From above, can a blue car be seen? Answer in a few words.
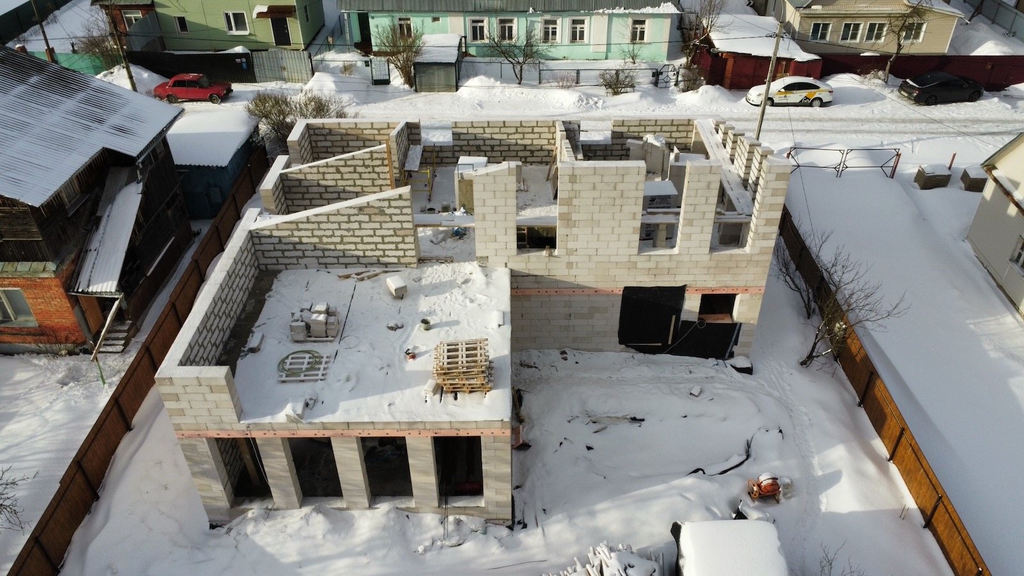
No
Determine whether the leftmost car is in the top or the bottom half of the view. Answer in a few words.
top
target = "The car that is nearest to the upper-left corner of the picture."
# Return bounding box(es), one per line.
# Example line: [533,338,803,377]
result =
[152,72,238,105]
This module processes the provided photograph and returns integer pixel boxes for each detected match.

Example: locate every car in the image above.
[152,72,238,105]
[744,68,838,105]
[898,69,983,105]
